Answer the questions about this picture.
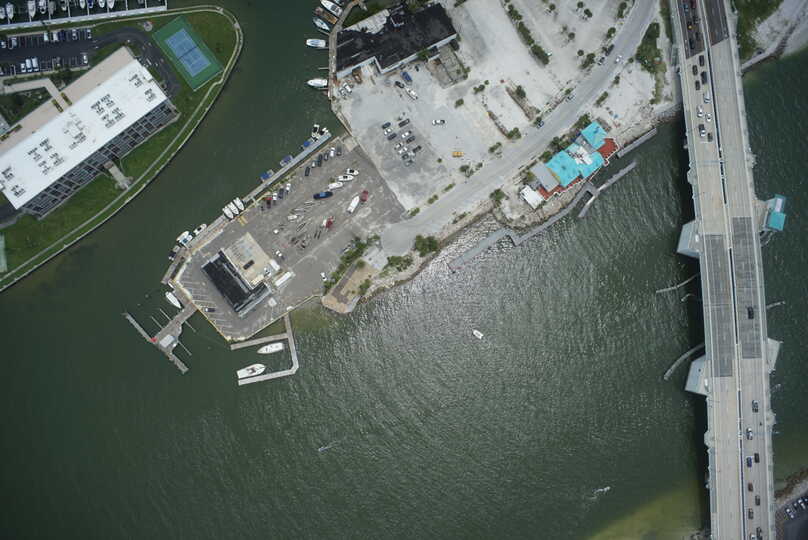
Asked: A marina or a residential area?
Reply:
marina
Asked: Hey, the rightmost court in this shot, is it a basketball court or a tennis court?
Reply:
tennis court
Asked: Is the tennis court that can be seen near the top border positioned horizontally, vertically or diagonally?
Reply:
diagonally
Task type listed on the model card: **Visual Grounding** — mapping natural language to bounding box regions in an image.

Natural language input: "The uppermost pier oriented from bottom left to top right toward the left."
[240,133,331,206]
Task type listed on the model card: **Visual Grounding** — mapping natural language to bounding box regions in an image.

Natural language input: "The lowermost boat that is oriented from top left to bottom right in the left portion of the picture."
[164,291,181,307]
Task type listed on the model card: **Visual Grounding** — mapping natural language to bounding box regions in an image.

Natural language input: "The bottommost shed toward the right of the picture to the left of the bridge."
[518,186,544,210]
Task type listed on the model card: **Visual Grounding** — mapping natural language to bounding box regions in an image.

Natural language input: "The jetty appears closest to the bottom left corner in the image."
[123,300,198,373]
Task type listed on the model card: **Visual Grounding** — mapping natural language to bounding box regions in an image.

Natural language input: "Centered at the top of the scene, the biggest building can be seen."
[335,4,457,77]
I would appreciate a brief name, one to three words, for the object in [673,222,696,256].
pier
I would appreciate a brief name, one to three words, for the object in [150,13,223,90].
tennis court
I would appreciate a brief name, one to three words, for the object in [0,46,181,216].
building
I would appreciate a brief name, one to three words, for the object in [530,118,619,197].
building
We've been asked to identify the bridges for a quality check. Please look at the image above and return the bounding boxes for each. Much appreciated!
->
[670,0,787,540]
